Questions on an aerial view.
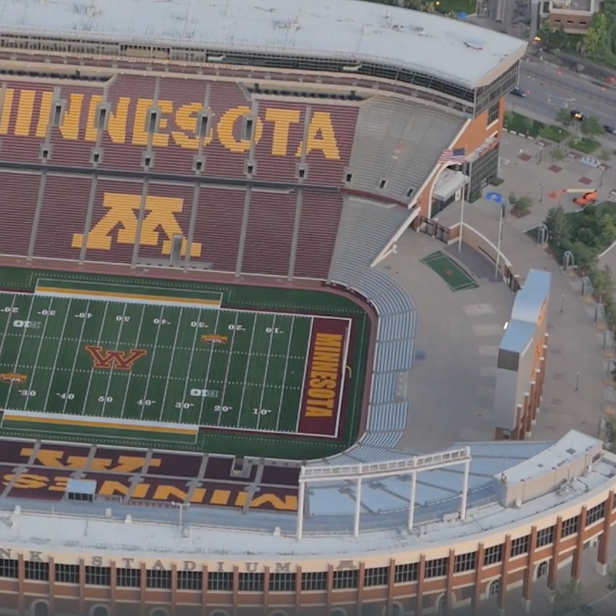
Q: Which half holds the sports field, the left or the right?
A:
left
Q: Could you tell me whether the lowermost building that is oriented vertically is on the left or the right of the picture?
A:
right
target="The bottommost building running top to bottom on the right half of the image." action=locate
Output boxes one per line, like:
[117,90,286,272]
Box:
[491,268,551,440]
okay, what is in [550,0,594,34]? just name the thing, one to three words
building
